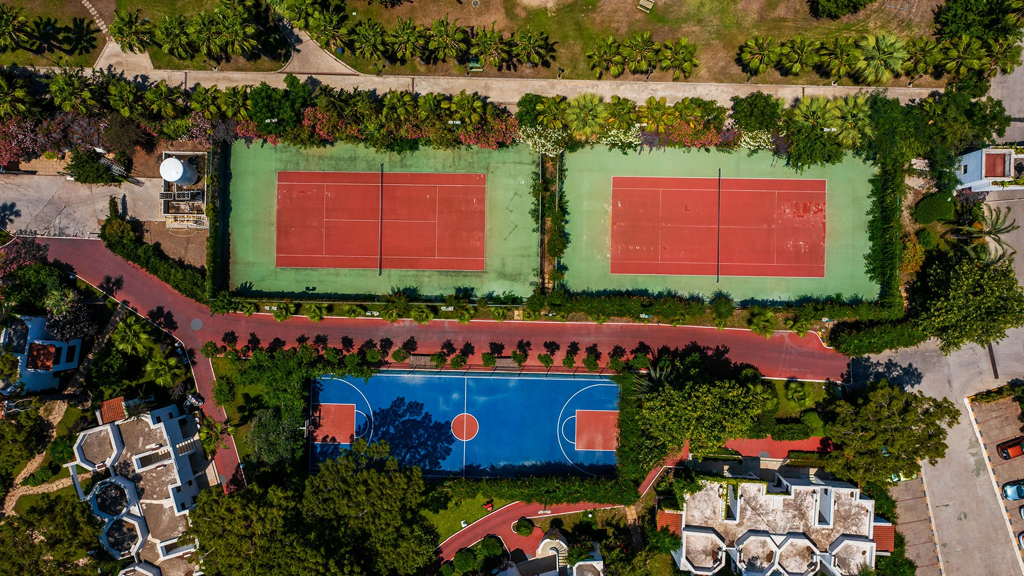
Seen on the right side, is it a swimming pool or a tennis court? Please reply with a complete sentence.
What appears on the right side is a tennis court.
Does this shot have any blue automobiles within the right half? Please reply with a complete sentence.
Yes, you'll find a blue automobile within the right half.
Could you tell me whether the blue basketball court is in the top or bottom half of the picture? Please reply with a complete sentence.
Seen from above, the blue basketball court lies in the bottom half of the view.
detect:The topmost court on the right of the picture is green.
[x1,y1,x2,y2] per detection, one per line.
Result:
[558,141,880,306]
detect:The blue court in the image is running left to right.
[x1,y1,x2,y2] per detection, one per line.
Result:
[309,369,621,478]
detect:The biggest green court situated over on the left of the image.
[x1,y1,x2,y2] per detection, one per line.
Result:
[226,138,540,301]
